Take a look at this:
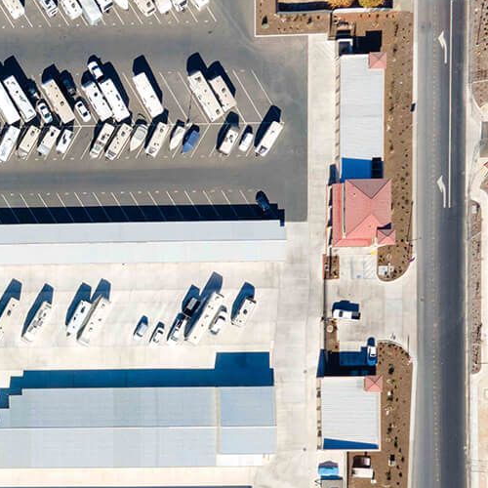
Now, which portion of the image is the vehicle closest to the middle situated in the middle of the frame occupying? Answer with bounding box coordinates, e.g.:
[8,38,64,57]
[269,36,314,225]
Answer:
[254,193,271,212]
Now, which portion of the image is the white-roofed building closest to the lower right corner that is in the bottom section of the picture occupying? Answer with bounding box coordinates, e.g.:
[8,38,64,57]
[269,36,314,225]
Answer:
[314,376,383,450]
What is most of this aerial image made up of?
paved ground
